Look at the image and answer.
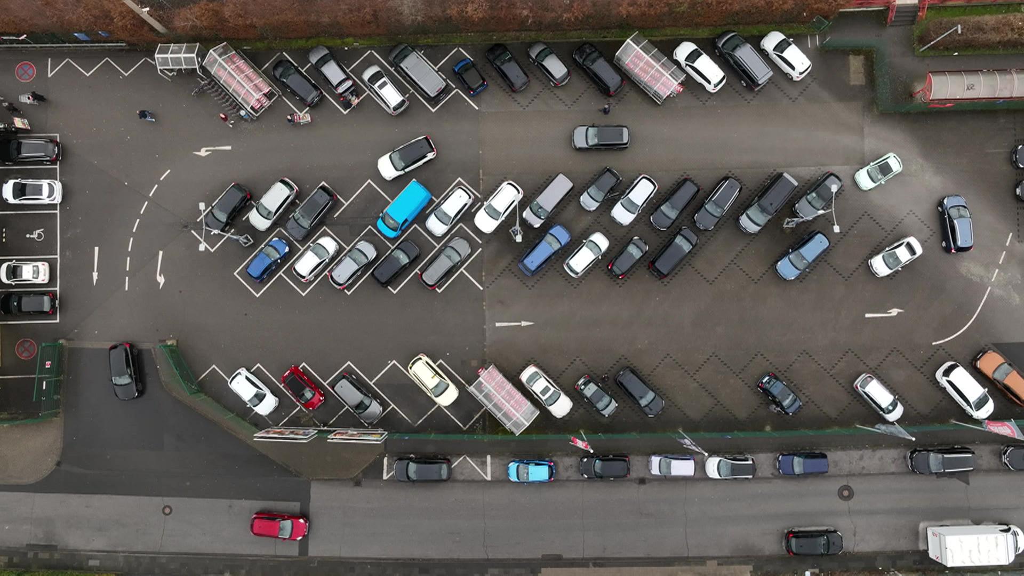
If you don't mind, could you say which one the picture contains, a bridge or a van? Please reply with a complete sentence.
Looking from above, you can make out a van.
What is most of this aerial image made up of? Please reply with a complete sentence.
The largest share of the image is taken up by paved ground.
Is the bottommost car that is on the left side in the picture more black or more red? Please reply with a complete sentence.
The color of the bottommost car that is on the left side is red.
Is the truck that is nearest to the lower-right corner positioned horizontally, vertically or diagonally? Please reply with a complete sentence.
The truck that is nearest to the lower-right corner runs horizontally in the image.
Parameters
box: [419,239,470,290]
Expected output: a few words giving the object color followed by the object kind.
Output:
gray car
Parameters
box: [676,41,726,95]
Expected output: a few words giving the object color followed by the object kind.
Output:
white car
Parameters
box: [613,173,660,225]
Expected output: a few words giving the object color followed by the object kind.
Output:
white car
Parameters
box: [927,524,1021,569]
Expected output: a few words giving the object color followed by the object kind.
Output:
white truck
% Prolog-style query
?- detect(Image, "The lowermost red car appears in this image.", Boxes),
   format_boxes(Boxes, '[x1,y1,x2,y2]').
[250,511,310,543]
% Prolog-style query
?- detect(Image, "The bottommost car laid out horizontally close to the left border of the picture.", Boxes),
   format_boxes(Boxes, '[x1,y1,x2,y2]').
[0,292,60,320]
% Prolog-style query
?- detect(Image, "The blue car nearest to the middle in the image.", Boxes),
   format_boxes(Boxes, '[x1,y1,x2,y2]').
[519,225,568,277]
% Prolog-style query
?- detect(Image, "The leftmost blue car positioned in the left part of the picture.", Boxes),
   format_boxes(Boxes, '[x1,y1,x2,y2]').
[246,238,291,282]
